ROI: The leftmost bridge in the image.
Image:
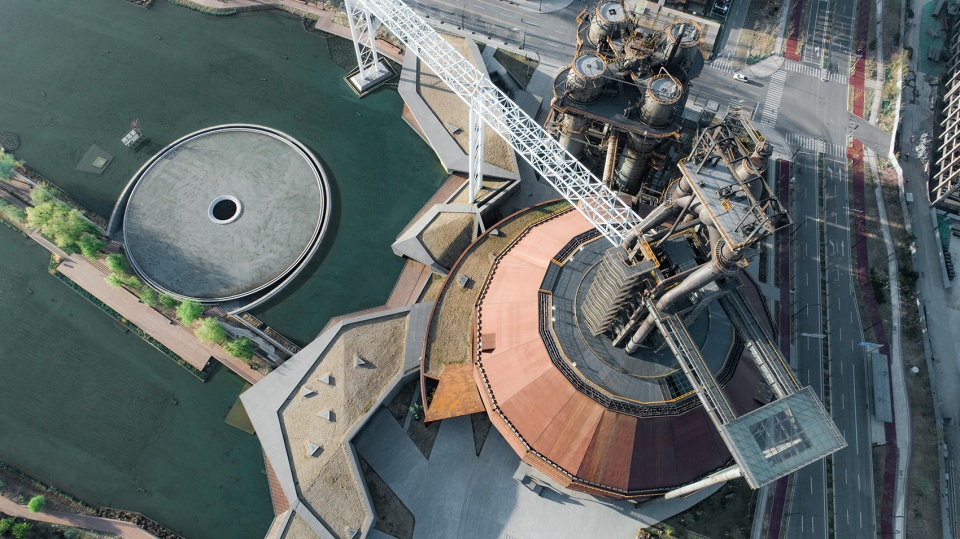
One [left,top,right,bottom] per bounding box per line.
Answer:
[338,0,640,246]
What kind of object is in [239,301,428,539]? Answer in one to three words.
building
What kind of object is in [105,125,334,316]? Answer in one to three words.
building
